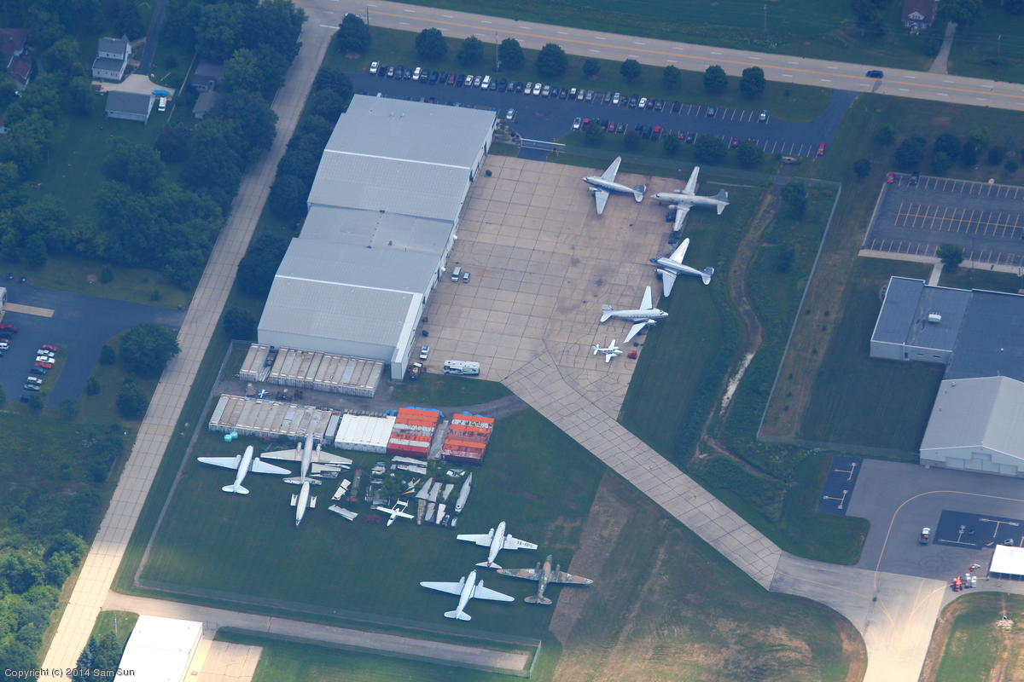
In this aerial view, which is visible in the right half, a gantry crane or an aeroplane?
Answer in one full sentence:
You can see an aeroplane in the right half.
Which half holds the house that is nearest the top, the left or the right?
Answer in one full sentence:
The house that is nearest the top sits on the right side.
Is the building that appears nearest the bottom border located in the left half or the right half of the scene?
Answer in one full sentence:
You can find the building that appears nearest the bottom border on the left side of the picture.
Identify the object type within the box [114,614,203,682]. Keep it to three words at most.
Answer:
building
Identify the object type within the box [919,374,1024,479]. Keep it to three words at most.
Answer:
hangar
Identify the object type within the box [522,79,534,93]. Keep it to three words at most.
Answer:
vehicle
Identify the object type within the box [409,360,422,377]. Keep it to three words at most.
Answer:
vehicle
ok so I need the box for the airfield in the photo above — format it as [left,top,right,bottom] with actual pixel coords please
[405,151,1024,682]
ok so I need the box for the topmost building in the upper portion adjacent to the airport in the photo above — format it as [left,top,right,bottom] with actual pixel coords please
[306,93,497,234]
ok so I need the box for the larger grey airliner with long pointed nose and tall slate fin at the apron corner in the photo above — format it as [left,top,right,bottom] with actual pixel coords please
[653,166,729,225]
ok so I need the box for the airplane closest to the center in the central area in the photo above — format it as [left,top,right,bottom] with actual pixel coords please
[593,339,622,362]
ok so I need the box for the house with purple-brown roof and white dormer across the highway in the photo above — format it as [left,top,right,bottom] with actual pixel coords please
[901,0,938,37]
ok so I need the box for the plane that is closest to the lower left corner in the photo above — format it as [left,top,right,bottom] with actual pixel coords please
[197,445,292,493]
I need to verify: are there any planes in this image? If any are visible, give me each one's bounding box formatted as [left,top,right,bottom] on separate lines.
[583,158,645,213]
[197,445,292,493]
[419,570,515,619]
[456,522,538,570]
[650,239,712,296]
[260,437,352,486]
[602,287,667,343]
[496,555,594,604]
[593,339,622,362]
[653,166,729,225]
[254,388,271,399]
